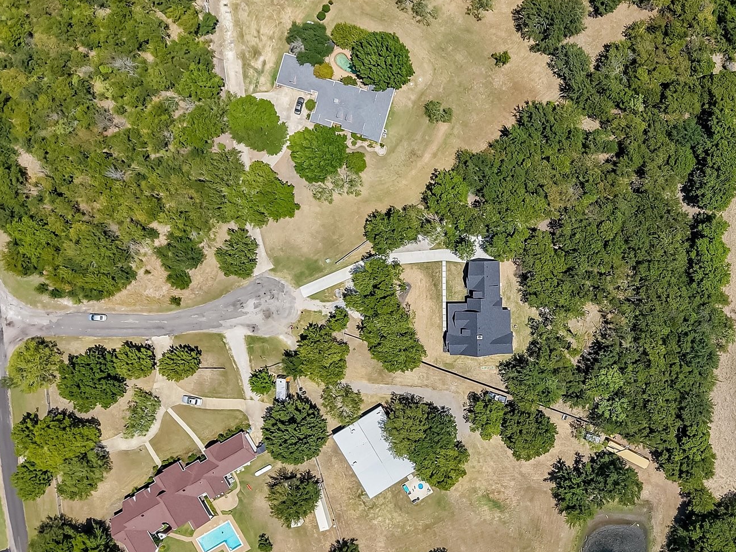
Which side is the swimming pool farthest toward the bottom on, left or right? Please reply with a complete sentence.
The swimming pool farthest toward the bottom sits on the left side.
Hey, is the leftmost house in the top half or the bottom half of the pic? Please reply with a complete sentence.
You can find the leftmost house in the bottom half.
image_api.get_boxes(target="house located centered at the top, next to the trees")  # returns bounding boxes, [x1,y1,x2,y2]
[275,52,395,143]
